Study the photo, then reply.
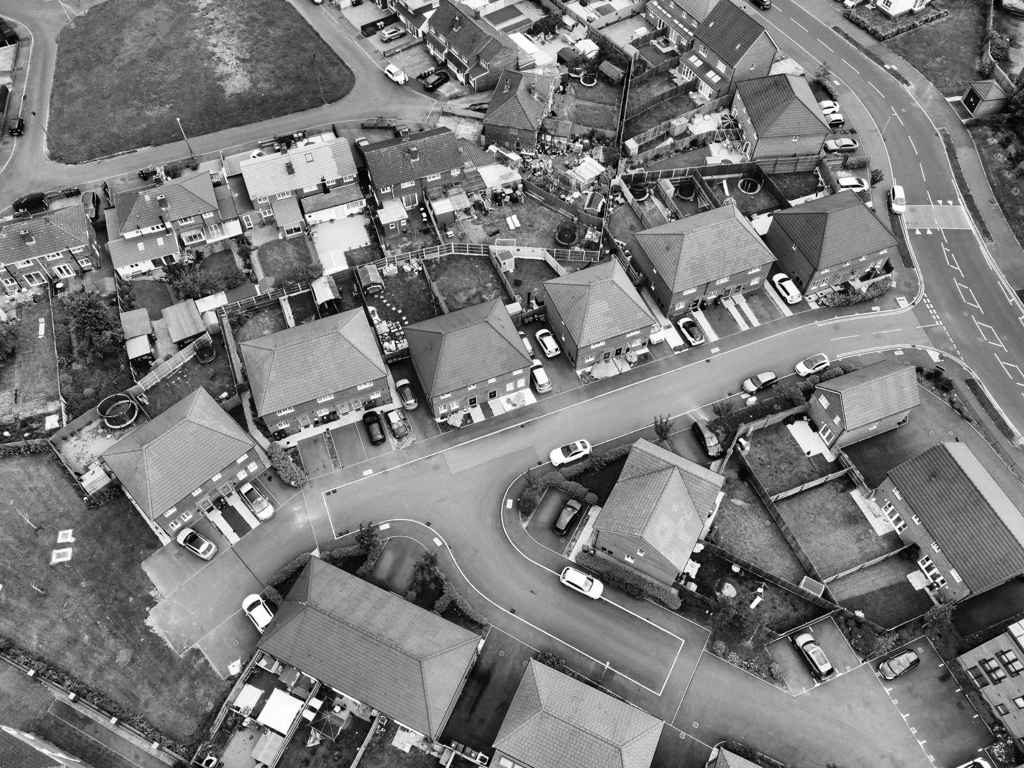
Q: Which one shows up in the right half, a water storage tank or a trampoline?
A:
trampoline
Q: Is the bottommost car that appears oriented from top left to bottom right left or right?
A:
right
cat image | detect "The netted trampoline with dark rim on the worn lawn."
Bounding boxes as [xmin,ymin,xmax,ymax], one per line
[554,218,582,249]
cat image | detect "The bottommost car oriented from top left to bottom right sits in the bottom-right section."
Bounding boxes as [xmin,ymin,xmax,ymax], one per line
[794,632,838,681]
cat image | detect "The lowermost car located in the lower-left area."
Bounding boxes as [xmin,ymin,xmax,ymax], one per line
[235,592,270,636]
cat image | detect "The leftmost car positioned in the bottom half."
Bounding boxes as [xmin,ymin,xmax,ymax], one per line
[174,526,219,561]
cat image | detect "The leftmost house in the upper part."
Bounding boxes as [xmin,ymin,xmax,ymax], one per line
[0,202,104,296]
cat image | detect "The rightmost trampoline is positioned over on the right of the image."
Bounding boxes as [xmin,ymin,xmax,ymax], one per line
[737,178,763,196]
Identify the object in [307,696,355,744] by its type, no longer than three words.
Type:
gazebo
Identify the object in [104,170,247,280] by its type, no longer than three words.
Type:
house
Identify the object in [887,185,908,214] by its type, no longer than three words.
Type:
car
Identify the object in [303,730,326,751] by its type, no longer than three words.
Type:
tent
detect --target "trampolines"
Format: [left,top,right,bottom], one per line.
[675,185,697,201]
[632,55,649,75]
[737,178,763,196]
[579,65,600,89]
[554,218,582,249]
[628,180,651,204]
[95,392,141,433]
[190,339,220,368]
